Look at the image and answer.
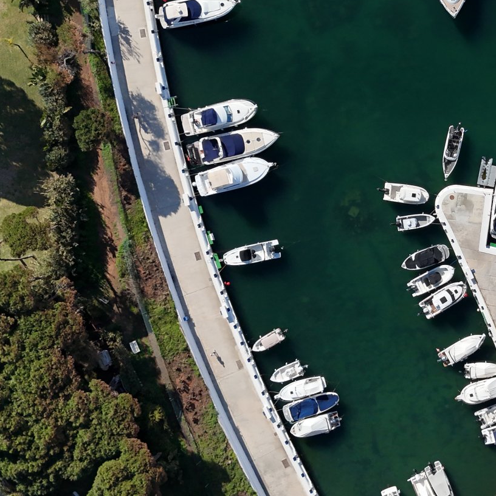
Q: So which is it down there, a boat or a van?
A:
boat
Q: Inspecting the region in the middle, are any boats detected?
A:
Yes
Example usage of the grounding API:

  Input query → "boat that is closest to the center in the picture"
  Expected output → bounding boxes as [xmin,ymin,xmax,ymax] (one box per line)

[221,238,282,265]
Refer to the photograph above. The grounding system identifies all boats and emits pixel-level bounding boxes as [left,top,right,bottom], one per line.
[413,284,470,319]
[442,116,465,181]
[453,376,496,405]
[221,238,282,265]
[374,182,431,205]
[423,457,458,496]
[153,0,241,31]
[252,326,287,351]
[190,158,275,196]
[432,333,486,369]
[188,127,280,163]
[291,410,342,439]
[403,265,455,299]
[409,469,433,496]
[389,211,438,231]
[399,243,450,269]
[181,103,259,135]
[471,404,496,430]
[460,359,496,381]
[477,425,496,445]
[283,392,341,424]
[383,481,400,496]
[274,372,328,401]
[270,358,308,383]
